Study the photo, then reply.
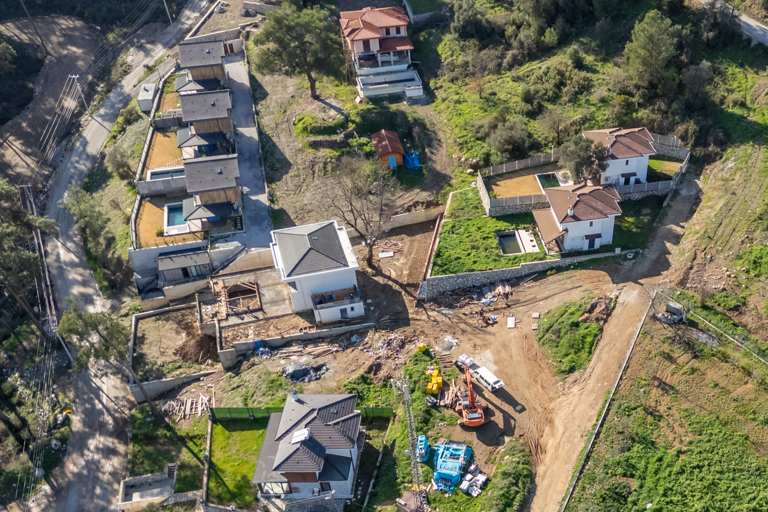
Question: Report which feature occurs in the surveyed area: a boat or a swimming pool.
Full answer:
This aerial view contains a swimming pool.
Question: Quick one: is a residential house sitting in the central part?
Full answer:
Yes, you'll find a residential house in the central part.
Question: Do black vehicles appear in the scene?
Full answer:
No, there's no black vehicle here.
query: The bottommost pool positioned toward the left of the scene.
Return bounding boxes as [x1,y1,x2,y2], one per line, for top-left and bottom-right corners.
[164,201,190,240]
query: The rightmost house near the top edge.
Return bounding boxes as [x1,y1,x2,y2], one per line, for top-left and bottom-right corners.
[340,7,415,72]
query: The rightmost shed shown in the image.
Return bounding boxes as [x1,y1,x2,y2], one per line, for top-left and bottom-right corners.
[663,297,689,315]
